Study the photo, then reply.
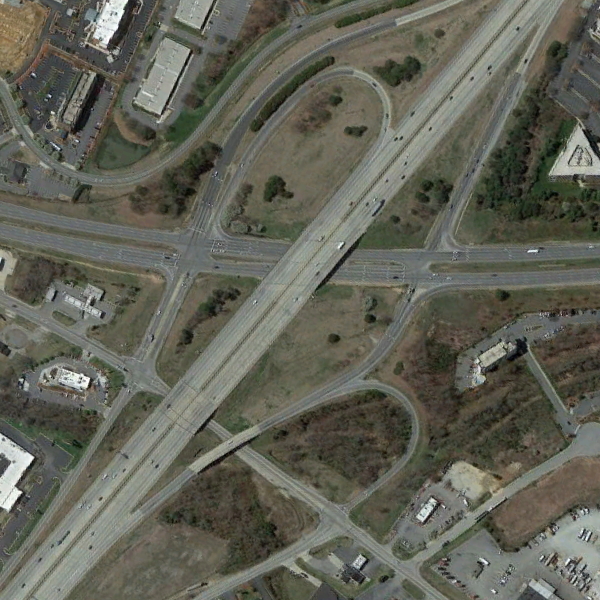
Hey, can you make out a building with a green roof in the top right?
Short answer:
No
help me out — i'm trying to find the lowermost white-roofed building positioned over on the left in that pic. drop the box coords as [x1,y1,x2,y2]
[0,433,36,514]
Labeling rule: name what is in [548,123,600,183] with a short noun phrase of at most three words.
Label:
building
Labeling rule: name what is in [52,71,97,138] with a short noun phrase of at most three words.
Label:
building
